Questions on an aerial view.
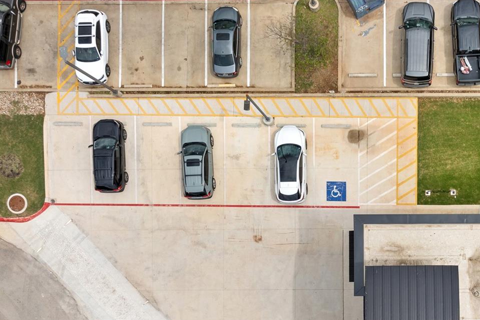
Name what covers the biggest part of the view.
paved ground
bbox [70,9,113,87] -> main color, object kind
white car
